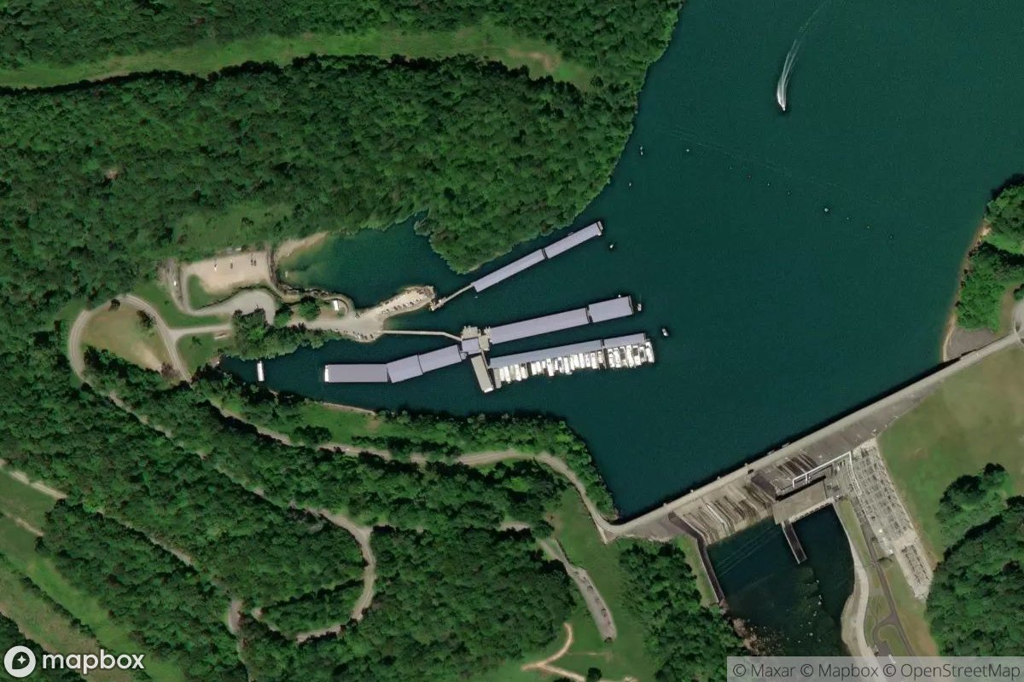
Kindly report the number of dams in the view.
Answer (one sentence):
The photo contains exactly 1 dam.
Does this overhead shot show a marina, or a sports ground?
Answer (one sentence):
The picture captures a marina.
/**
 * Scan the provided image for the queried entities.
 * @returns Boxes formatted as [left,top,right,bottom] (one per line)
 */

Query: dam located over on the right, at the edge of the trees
[619,340,1009,546]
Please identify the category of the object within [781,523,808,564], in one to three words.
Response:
pier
